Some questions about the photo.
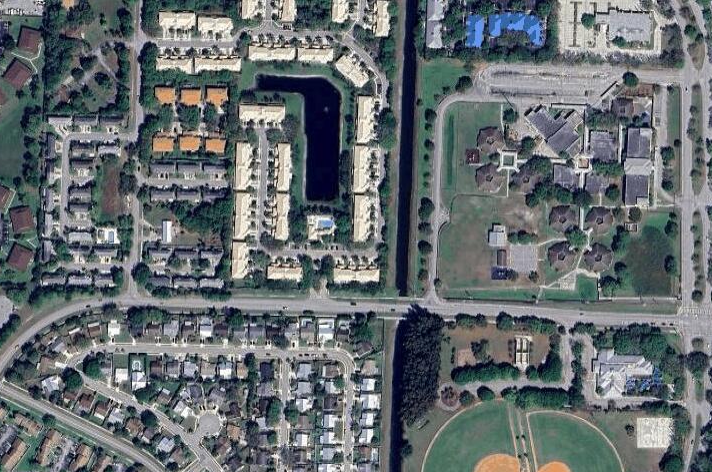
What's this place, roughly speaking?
residential area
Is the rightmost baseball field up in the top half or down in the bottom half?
bottom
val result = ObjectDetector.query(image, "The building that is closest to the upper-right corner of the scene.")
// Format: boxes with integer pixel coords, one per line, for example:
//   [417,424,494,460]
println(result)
[597,11,650,44]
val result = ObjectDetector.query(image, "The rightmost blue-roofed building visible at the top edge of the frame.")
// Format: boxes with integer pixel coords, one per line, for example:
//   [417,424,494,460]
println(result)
[487,12,546,45]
